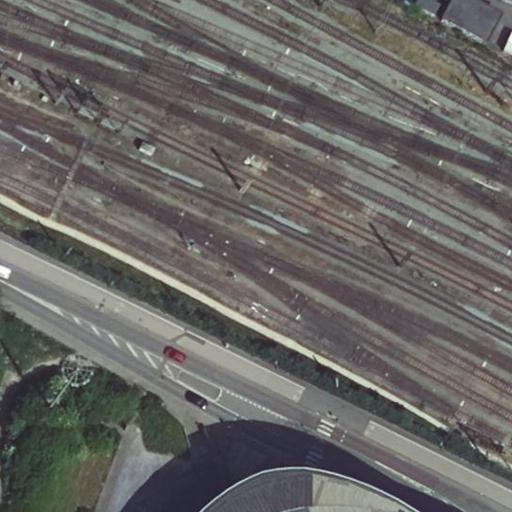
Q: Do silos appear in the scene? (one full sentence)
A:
No, the photo shows no silo.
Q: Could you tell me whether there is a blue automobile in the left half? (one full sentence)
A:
No, looking in the left half, there is no blue automobile.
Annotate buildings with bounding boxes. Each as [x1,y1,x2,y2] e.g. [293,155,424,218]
[446,0,503,44]
[199,467,418,512]
[500,26,512,66]
[410,0,443,16]
[138,142,156,158]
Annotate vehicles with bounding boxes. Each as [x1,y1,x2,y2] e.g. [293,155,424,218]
[185,390,208,408]
[162,346,186,363]
[0,264,12,280]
